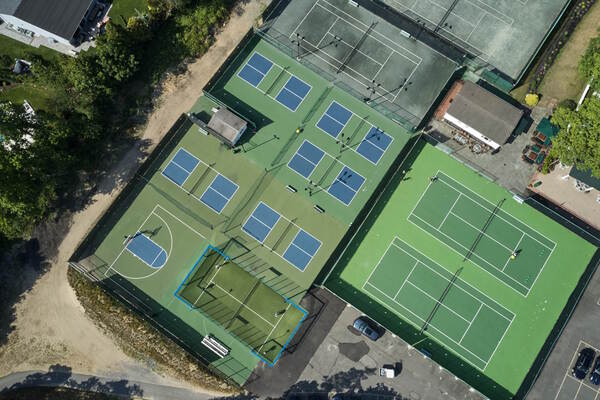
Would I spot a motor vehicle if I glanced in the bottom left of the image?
No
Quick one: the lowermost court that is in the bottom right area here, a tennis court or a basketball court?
tennis court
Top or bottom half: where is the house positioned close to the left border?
top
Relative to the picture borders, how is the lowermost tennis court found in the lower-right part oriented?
at an angle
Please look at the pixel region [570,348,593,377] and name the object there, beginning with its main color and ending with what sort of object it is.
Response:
black car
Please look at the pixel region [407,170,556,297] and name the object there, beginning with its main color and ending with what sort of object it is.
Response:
green tennis court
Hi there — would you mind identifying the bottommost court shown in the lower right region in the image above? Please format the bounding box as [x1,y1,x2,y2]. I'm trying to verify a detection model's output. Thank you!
[363,236,516,371]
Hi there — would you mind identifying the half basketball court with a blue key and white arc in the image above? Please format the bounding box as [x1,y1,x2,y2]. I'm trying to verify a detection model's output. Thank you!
[105,205,205,331]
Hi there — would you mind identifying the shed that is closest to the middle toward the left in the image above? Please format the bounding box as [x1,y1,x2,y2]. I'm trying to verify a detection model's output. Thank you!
[207,108,248,146]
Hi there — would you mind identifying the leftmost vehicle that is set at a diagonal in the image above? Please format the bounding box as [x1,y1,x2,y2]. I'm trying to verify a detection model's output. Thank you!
[354,315,380,341]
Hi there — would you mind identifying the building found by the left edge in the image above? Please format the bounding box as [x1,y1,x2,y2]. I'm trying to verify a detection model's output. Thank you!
[0,0,110,49]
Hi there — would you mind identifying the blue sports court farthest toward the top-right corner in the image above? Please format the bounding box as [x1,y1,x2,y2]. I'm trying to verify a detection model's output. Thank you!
[315,101,394,165]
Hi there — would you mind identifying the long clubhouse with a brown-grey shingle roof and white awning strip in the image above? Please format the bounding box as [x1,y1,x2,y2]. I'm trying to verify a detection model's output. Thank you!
[436,80,522,159]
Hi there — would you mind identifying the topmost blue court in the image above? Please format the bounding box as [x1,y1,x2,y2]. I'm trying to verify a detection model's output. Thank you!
[237,52,312,112]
